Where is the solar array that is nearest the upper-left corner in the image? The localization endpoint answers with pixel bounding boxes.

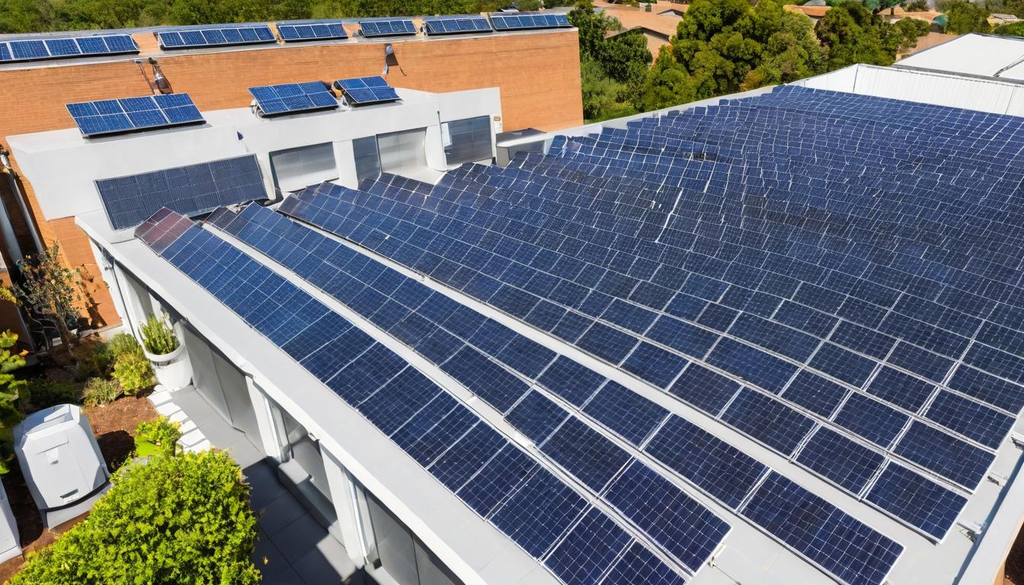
[0,35,144,64]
